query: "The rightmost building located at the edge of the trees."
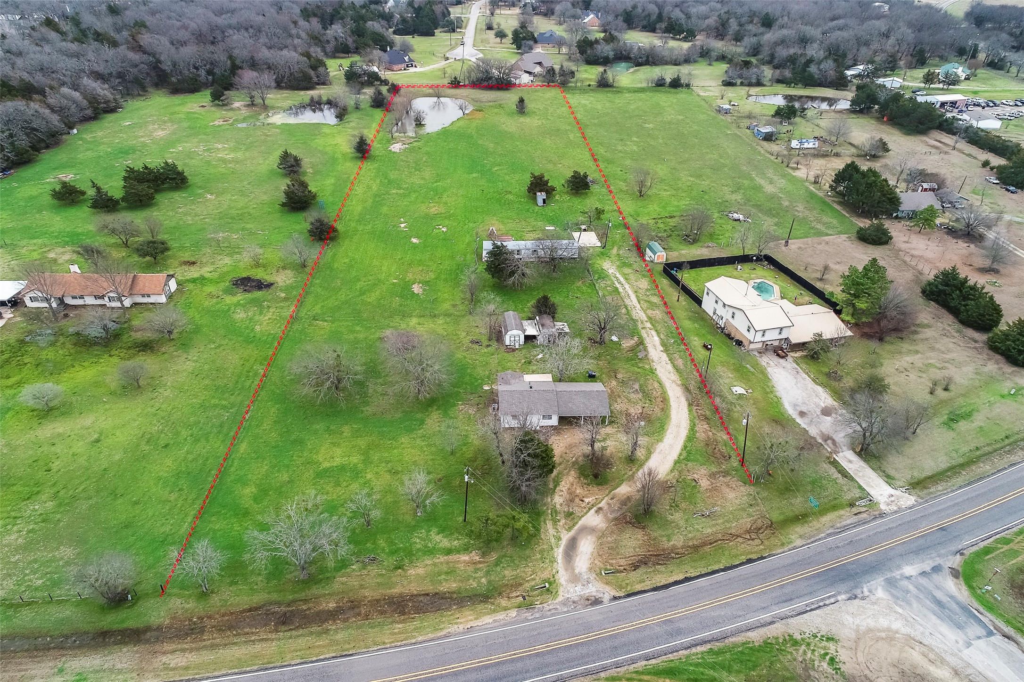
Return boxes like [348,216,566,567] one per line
[974,112,1005,130]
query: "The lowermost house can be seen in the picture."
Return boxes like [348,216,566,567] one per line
[497,368,606,431]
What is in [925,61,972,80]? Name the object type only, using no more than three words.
building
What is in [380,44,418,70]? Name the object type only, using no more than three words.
house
